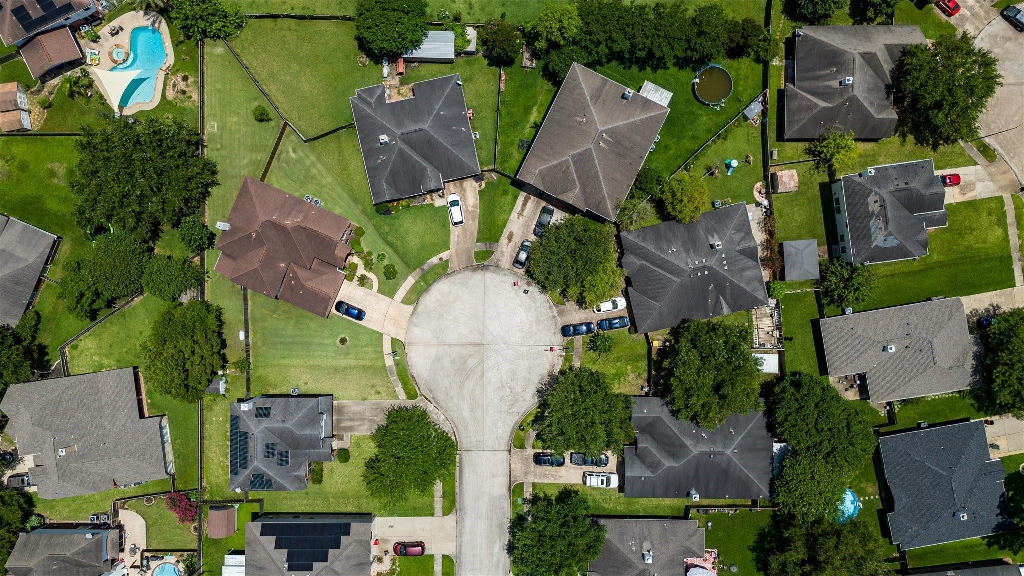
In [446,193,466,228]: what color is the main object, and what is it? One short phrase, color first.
white car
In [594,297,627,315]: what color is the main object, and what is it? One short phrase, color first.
white car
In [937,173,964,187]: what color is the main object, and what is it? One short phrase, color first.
red car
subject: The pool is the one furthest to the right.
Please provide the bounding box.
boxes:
[841,490,866,521]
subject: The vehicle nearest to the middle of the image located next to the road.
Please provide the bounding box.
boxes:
[512,239,532,271]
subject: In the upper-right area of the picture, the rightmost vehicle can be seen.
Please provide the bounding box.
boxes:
[998,5,1024,35]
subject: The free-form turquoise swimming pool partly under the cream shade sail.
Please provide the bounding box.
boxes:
[109,24,169,109]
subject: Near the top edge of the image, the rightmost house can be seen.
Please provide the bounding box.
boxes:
[781,25,931,140]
